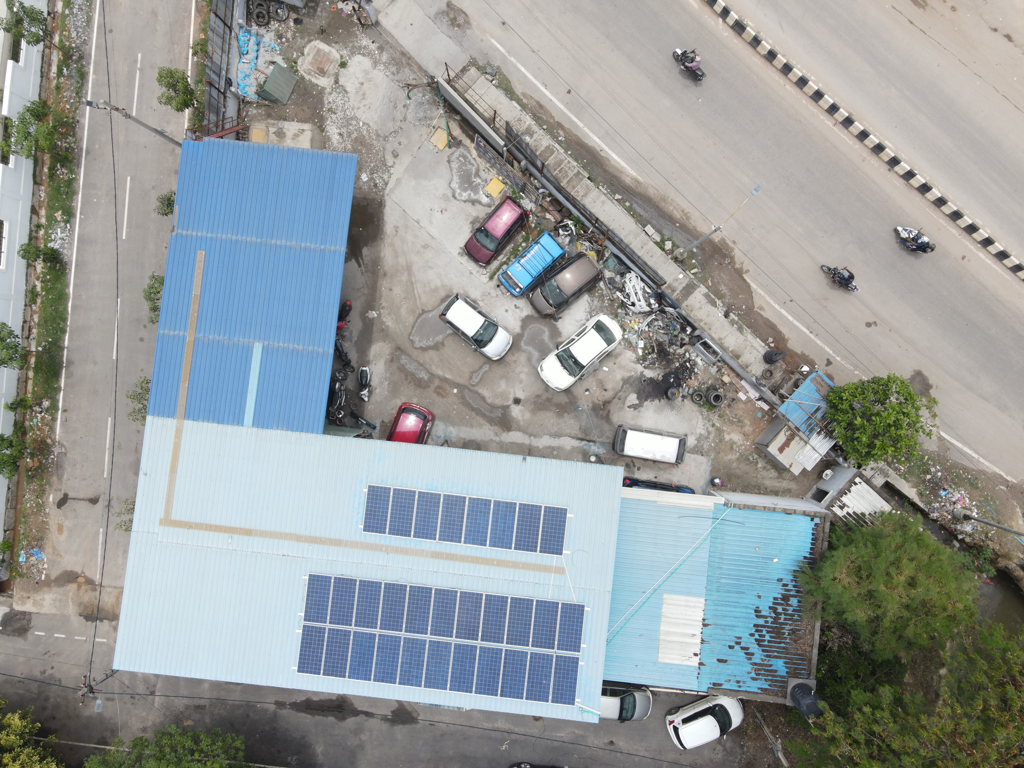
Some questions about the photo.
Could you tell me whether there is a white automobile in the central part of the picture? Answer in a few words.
Yes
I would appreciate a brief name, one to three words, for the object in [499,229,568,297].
van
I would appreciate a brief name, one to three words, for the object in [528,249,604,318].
car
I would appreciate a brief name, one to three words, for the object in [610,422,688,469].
van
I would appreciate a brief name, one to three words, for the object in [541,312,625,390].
car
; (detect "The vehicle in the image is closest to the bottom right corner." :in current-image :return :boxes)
[664,694,744,754]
